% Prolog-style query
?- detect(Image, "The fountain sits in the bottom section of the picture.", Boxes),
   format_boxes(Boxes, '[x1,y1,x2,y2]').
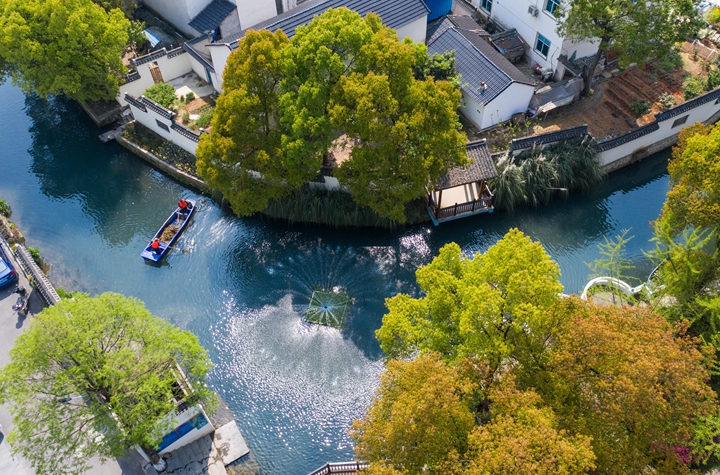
[235,239,396,391]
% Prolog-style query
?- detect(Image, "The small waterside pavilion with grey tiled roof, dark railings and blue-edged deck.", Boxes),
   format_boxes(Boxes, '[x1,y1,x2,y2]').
[418,141,501,225]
